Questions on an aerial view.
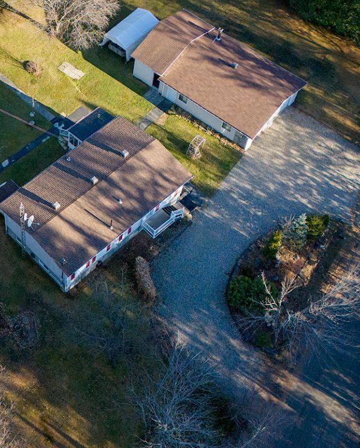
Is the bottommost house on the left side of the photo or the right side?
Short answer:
left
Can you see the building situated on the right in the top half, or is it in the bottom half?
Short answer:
top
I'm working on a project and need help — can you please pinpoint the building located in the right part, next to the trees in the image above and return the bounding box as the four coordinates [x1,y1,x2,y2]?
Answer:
[130,7,305,151]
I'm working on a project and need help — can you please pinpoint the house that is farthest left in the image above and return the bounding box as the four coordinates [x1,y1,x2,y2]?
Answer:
[0,105,191,292]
